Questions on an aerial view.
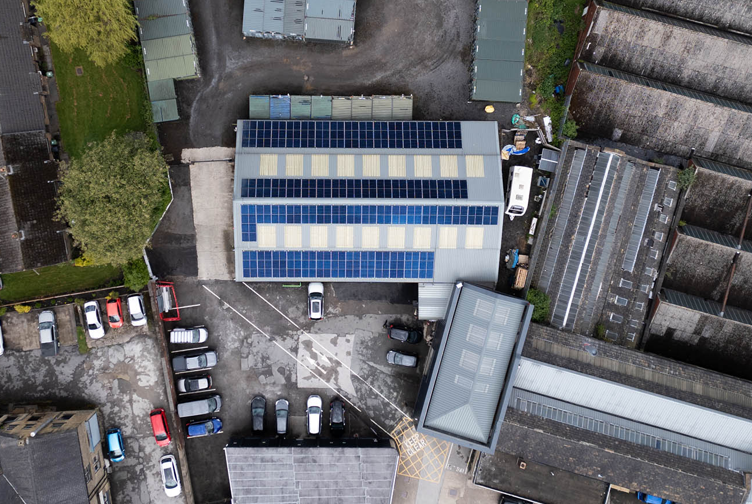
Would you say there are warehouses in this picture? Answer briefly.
Yes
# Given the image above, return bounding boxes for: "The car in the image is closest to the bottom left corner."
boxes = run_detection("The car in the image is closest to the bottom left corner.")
[107,426,126,462]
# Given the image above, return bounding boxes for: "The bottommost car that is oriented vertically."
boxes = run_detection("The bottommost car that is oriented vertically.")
[160,453,181,497]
